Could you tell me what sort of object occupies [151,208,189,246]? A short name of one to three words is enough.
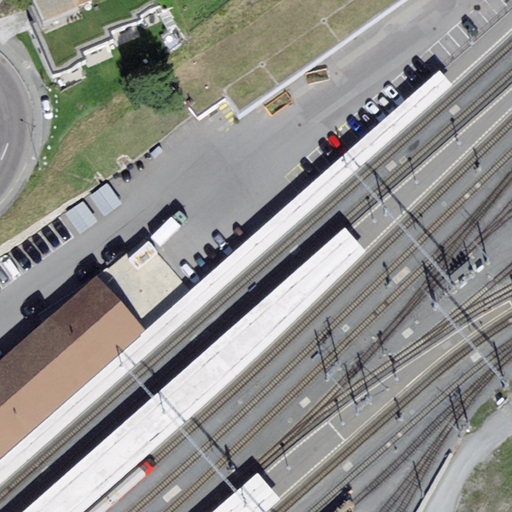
truck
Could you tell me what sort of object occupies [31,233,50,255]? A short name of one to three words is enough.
car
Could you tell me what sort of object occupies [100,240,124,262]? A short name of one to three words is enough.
vehicle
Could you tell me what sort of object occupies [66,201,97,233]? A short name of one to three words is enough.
building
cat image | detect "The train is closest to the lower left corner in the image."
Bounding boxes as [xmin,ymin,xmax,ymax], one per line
[88,456,158,512]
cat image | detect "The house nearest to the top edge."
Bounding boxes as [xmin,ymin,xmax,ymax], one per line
[20,0,168,76]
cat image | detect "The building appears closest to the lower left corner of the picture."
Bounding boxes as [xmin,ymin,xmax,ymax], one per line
[0,276,145,453]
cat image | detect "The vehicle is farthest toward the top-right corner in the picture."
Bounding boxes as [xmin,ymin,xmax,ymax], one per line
[462,16,480,40]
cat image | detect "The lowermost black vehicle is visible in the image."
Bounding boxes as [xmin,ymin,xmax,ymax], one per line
[20,294,44,315]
